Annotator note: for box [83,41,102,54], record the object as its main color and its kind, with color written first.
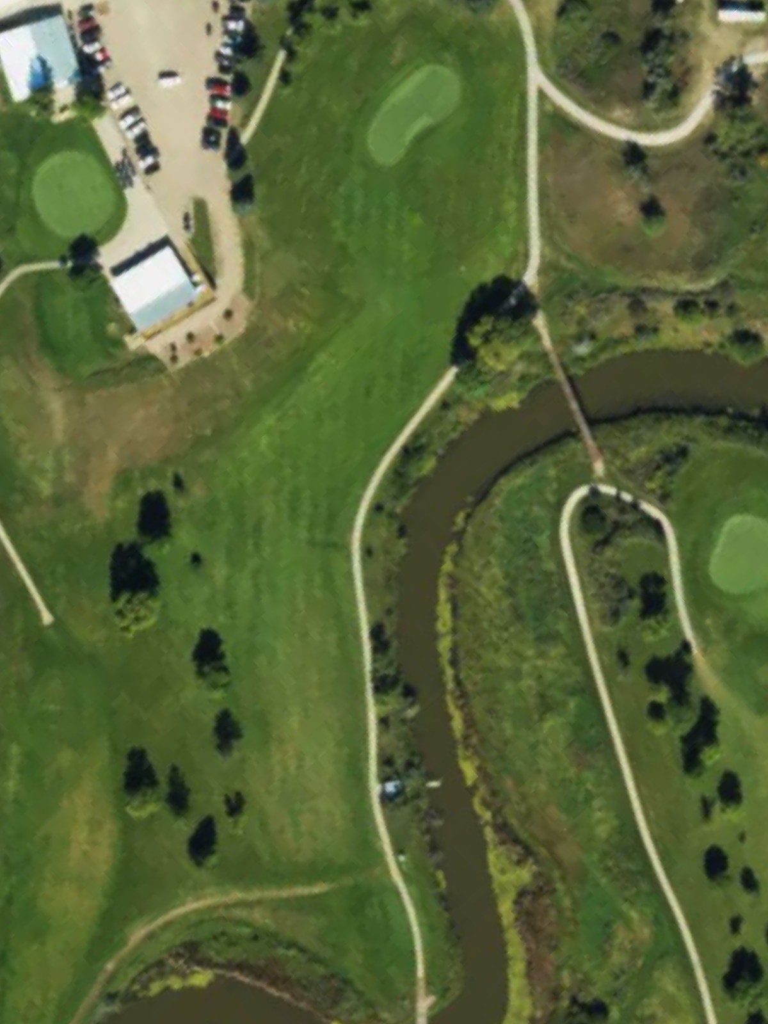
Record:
white vehicle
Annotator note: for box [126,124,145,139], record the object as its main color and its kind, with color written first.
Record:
white car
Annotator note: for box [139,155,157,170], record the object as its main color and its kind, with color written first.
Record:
white car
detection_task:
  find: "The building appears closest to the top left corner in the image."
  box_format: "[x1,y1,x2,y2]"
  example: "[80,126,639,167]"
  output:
[0,15,81,102]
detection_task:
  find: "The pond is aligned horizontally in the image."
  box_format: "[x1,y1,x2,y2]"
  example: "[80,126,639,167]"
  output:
[104,973,329,1024]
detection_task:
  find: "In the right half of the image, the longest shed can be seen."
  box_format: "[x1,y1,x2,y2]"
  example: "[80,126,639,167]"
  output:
[719,10,767,22]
